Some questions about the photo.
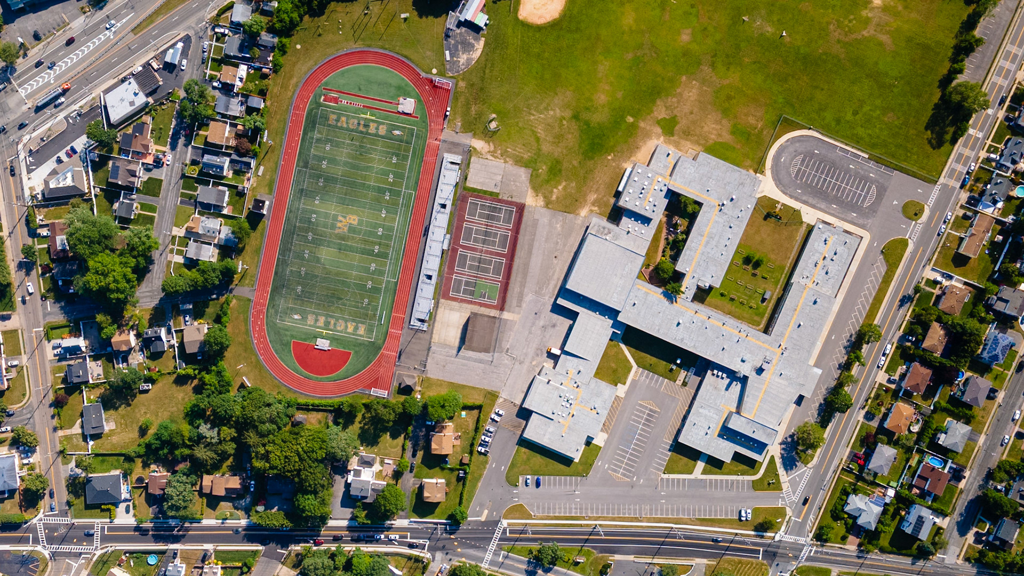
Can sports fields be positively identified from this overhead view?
Yes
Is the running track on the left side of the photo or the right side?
left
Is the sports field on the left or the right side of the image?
left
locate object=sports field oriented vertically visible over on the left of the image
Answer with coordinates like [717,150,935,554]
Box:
[265,64,428,382]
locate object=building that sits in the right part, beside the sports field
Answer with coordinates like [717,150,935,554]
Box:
[522,145,862,463]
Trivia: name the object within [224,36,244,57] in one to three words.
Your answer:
house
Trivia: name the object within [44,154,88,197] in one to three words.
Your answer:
building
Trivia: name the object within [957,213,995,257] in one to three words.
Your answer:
house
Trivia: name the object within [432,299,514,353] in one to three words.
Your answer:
sports court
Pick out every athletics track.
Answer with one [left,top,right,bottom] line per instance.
[249,47,458,400]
